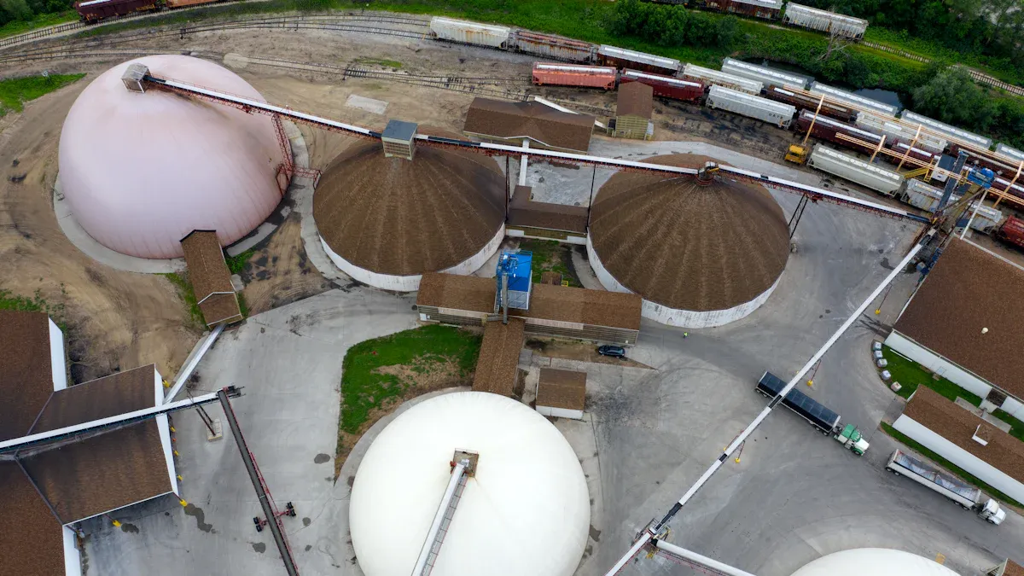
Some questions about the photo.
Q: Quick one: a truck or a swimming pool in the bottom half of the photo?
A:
truck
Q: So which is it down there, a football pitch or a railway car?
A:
railway car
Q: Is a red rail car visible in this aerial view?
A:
Yes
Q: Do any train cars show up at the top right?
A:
Yes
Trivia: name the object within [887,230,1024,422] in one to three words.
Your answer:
warehouse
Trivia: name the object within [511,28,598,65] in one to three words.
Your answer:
rail car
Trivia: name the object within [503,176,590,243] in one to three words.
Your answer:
building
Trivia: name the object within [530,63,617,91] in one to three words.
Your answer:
rail car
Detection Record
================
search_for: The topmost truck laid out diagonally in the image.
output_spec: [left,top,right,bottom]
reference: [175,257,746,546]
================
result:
[755,373,868,457]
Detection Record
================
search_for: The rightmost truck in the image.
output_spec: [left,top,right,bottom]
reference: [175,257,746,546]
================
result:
[886,447,1004,526]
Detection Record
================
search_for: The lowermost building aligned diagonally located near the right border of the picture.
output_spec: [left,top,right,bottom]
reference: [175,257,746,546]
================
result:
[894,383,1024,501]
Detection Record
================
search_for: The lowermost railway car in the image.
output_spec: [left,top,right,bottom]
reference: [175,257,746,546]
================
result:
[992,216,1024,249]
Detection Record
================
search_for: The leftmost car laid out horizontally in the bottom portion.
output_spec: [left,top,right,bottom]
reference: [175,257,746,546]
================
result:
[597,344,625,359]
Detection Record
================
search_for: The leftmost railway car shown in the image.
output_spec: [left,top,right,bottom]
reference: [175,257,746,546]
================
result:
[76,0,167,23]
